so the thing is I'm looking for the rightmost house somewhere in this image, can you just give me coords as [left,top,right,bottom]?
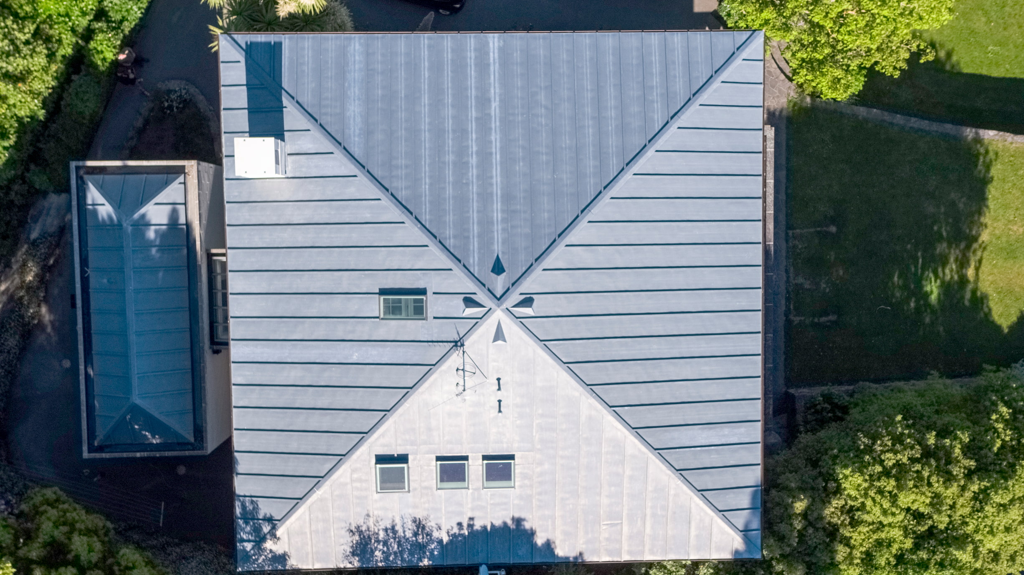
[216,28,767,574]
